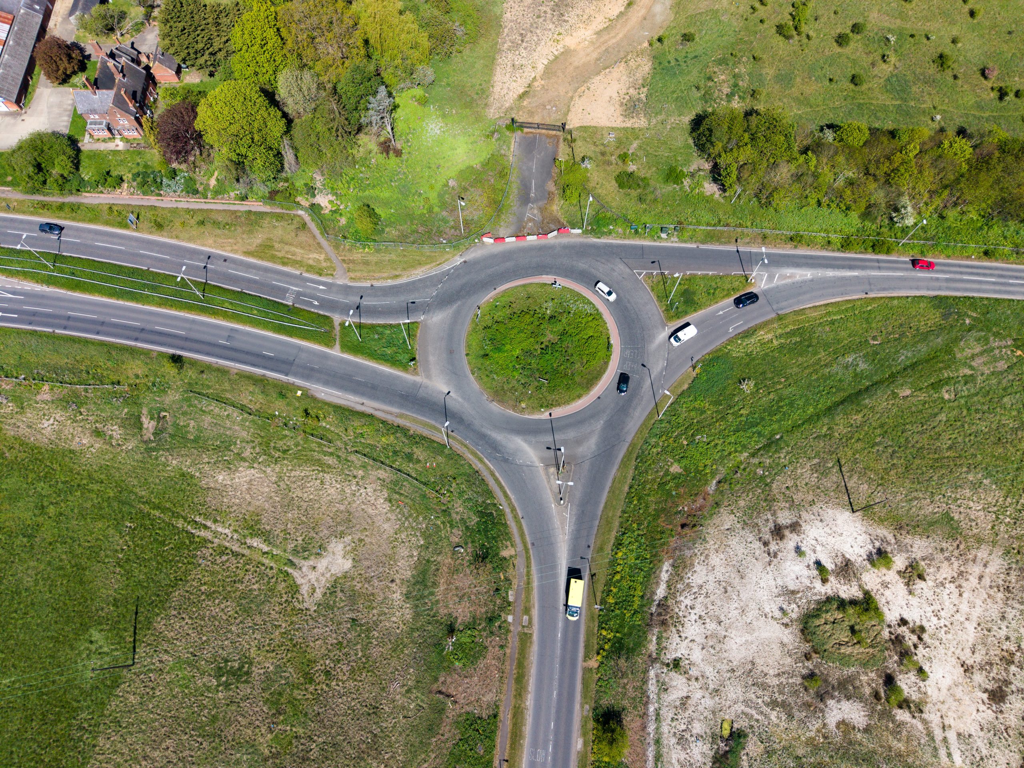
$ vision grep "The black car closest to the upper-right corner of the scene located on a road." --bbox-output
[733,292,760,311]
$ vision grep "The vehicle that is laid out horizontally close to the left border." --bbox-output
[37,223,64,236]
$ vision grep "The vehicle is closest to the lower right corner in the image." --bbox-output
[563,578,584,622]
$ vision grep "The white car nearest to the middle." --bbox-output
[594,281,617,303]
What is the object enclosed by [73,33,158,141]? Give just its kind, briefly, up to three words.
house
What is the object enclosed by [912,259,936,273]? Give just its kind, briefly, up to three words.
car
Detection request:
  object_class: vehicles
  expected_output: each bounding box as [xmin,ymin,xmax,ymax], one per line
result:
[594,281,617,303]
[563,578,584,622]
[733,292,760,311]
[912,259,936,273]
[37,223,64,236]
[669,324,699,347]
[617,372,630,397]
